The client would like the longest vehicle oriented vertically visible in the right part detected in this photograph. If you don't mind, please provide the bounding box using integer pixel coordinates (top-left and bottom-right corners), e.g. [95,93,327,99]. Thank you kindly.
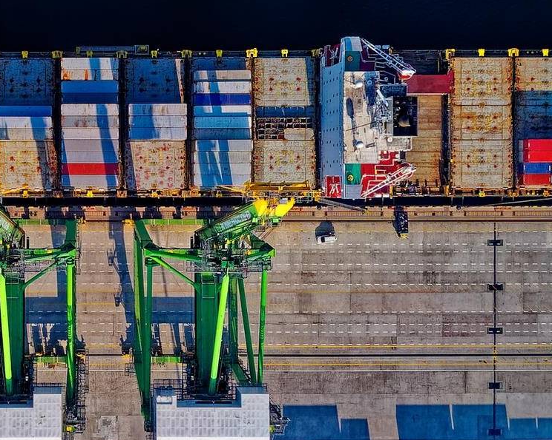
[398,205,413,241]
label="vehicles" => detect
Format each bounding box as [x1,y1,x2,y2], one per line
[398,205,413,241]
[318,233,339,243]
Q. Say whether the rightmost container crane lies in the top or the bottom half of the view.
bottom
